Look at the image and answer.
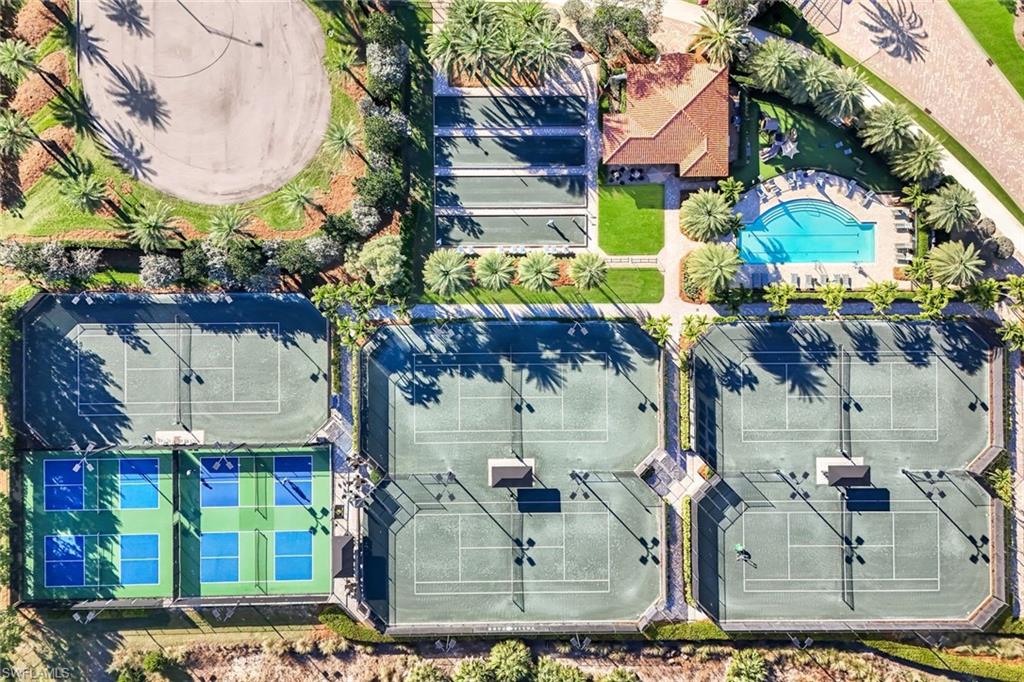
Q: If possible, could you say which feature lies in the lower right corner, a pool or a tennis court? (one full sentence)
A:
What appears in the lower right corner is a tennis court.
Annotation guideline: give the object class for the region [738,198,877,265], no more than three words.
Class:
swimming pool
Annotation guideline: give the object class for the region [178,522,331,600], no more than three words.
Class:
sports court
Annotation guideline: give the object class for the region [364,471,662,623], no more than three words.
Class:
tennis court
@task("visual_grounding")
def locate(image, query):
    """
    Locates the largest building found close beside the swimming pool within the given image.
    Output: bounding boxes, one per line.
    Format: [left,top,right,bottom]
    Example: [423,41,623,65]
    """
[603,52,729,177]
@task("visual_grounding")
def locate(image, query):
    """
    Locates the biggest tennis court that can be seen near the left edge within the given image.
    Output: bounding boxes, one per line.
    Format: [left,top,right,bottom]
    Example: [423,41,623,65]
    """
[23,293,326,446]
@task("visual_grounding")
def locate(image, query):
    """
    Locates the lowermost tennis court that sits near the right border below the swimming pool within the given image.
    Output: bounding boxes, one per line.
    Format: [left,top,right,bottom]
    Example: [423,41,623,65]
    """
[701,471,990,622]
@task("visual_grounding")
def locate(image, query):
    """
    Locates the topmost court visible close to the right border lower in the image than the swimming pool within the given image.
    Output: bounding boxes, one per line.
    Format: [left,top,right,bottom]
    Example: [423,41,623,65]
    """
[697,324,990,478]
